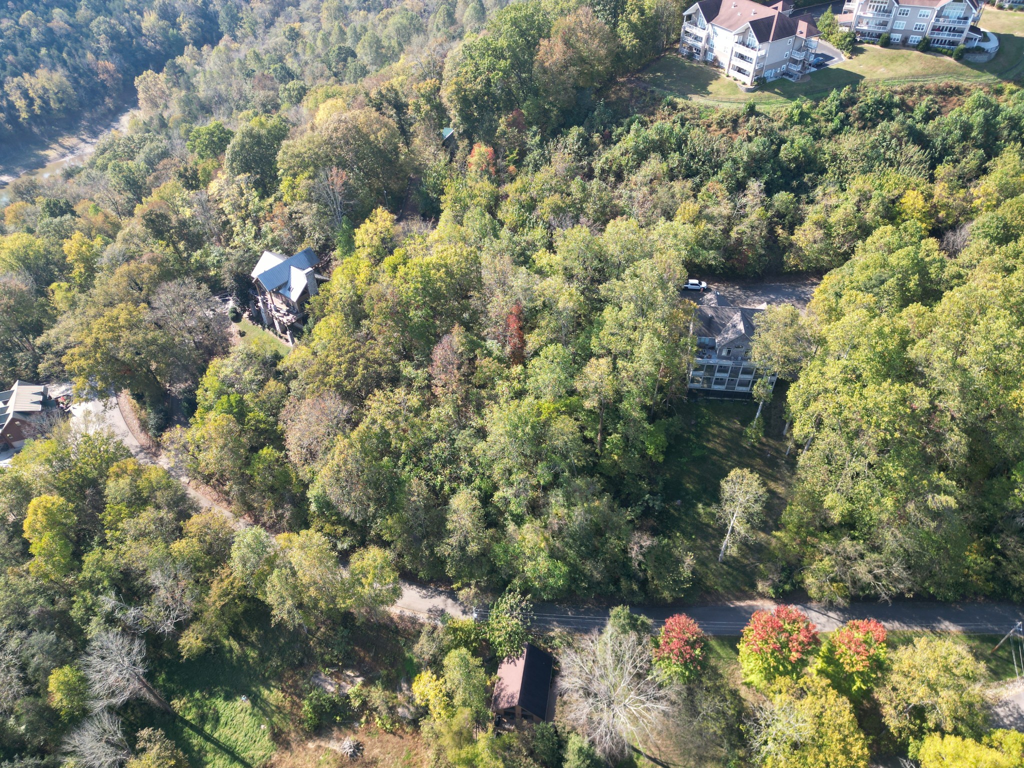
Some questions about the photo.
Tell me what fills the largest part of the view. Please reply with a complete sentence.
What you mostly see from above here is trees.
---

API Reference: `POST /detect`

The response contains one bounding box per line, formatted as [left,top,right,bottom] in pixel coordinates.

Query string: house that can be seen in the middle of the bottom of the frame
[488,644,556,743]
